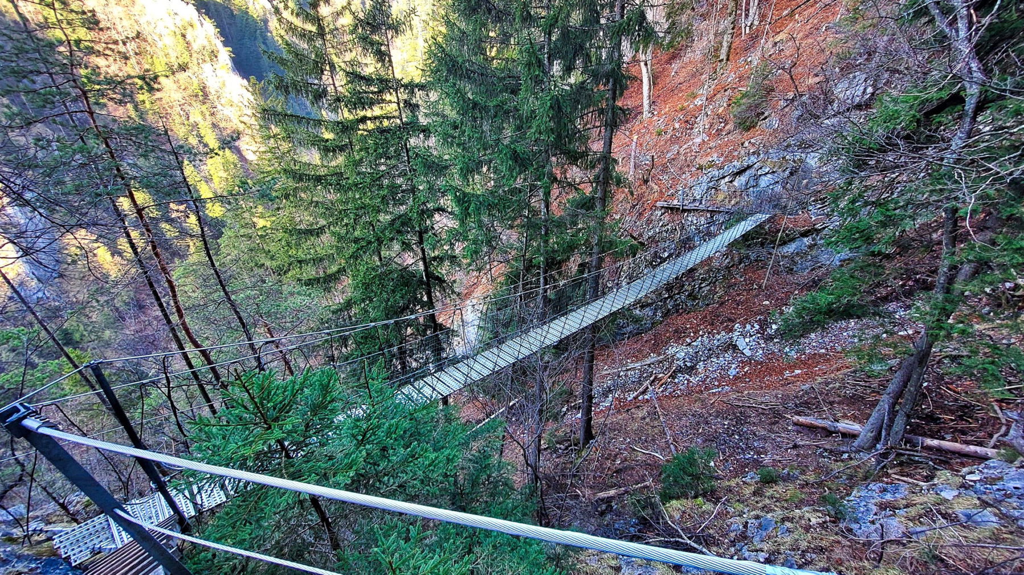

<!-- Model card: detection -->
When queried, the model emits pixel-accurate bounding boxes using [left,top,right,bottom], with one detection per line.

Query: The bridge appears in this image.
[0,169,807,517]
